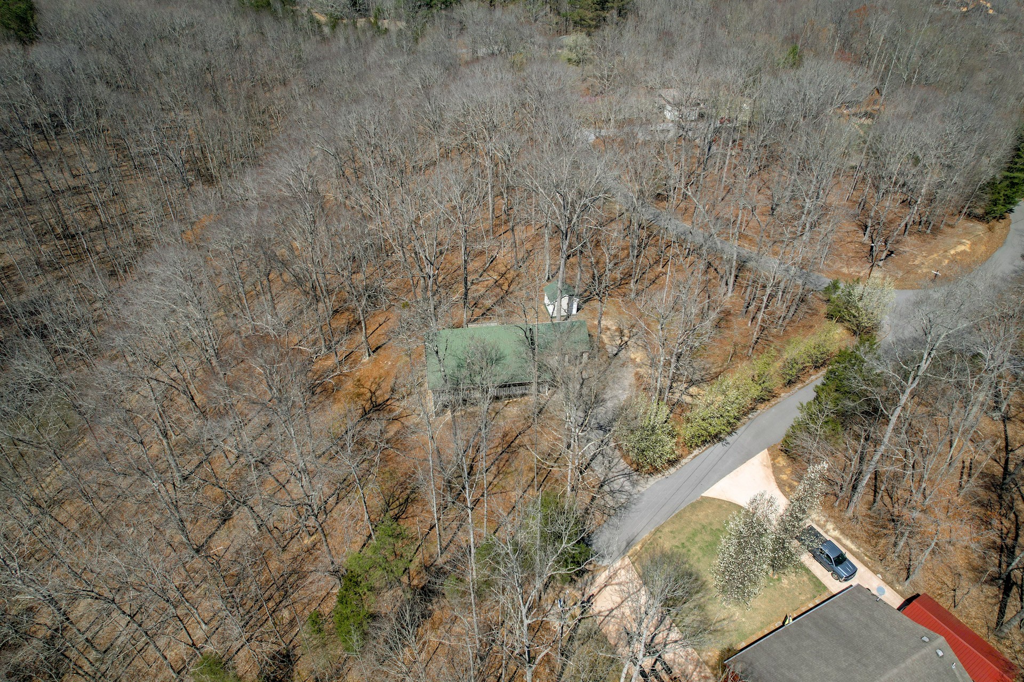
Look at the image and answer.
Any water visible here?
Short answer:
No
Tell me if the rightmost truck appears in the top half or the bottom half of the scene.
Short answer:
bottom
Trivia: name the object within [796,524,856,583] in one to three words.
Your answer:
truck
